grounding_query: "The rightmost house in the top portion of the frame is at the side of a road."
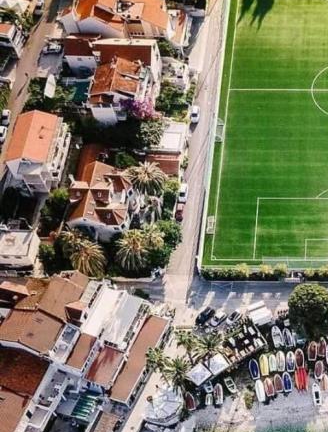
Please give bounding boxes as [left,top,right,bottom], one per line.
[146,121,189,180]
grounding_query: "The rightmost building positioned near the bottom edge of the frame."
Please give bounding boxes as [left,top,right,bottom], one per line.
[109,315,172,413]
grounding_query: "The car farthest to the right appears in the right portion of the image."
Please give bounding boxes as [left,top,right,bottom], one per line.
[226,307,241,324]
